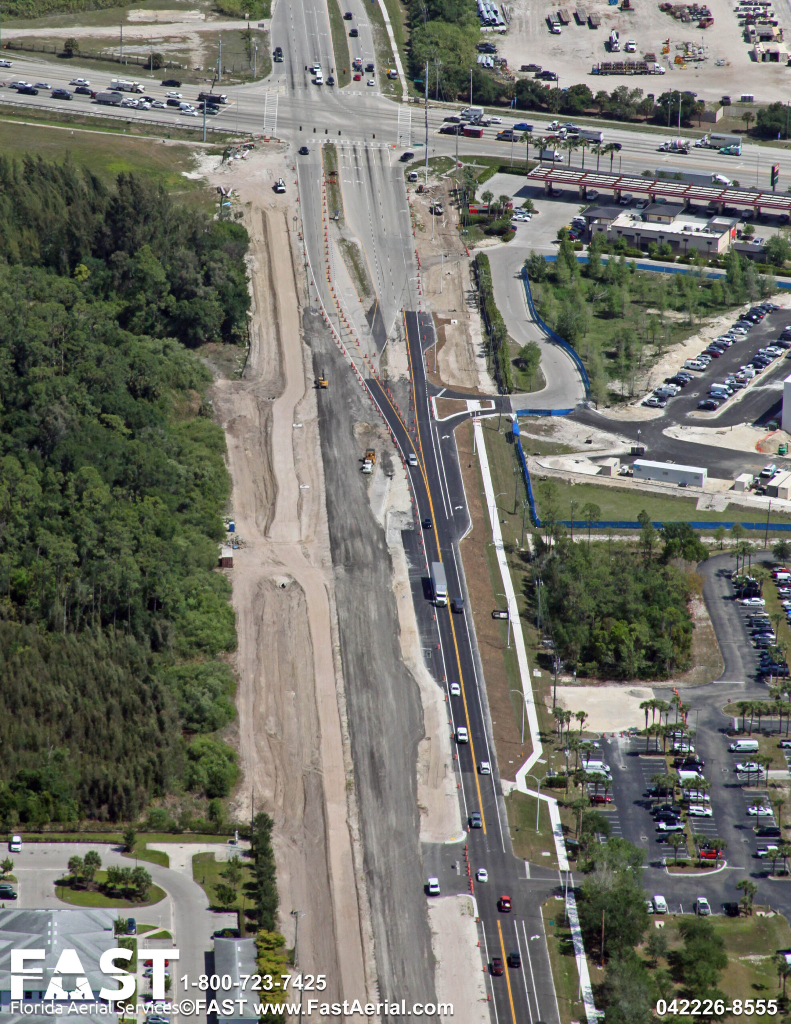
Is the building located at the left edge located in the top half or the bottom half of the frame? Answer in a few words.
bottom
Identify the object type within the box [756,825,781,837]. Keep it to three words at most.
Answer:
vehicle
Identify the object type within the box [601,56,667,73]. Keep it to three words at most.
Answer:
vehicle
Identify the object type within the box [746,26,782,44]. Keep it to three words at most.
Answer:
shed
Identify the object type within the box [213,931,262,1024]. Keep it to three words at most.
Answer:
building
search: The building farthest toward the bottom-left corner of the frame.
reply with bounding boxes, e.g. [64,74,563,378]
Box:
[0,908,122,1024]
